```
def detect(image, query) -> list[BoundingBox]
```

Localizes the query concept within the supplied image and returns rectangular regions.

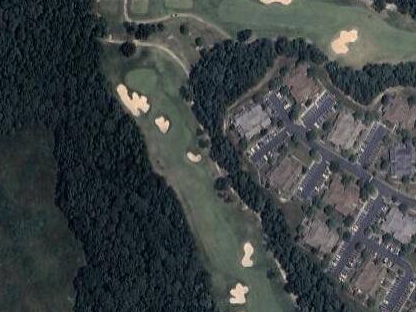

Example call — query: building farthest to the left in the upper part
[233,104,271,140]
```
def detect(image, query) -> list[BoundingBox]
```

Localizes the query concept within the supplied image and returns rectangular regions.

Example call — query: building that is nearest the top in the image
[278,65,324,106]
